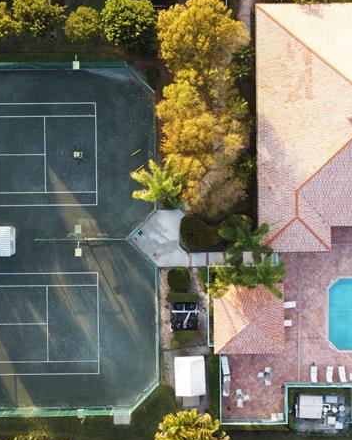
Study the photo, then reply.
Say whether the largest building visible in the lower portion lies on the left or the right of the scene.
right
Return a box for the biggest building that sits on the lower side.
[213,286,286,354]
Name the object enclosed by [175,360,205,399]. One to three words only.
shed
